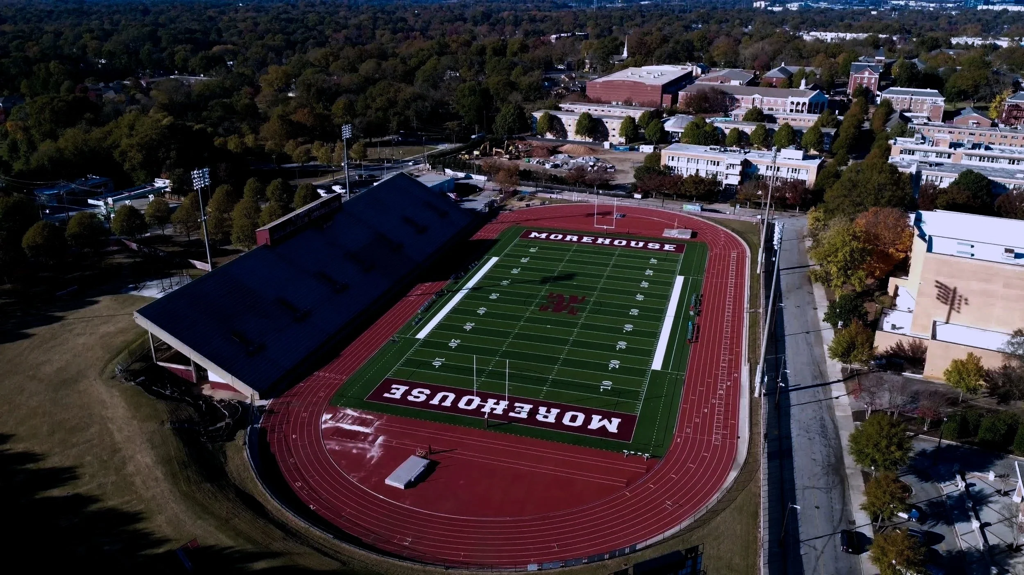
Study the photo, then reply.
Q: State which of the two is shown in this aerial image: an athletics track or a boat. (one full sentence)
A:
This aerial view contains an athletics track.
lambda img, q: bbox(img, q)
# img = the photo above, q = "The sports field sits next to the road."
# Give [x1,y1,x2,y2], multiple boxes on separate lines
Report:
[332,226,707,457]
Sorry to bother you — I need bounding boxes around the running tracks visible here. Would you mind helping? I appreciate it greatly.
[263,205,747,565]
